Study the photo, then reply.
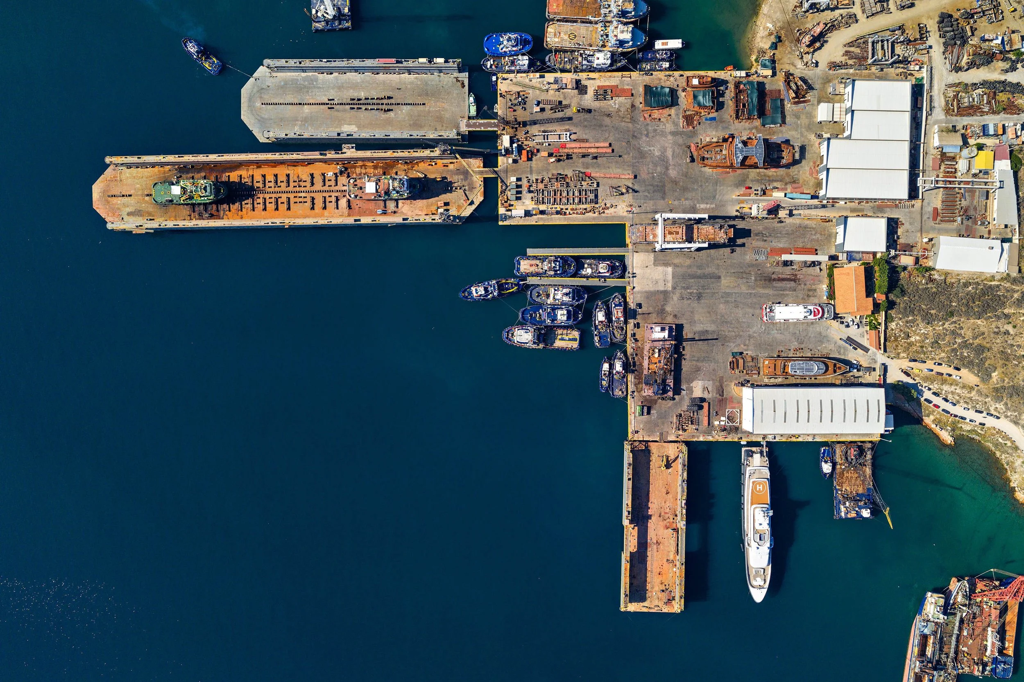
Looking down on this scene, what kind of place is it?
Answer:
port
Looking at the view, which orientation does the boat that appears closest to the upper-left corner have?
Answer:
diagonally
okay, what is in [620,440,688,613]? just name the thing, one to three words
pier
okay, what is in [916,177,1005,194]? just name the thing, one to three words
container crane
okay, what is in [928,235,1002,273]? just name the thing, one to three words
building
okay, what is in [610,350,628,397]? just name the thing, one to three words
boat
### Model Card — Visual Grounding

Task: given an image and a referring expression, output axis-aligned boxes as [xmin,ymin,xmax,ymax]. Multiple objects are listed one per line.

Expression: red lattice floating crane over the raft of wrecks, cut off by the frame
[965,569,1024,624]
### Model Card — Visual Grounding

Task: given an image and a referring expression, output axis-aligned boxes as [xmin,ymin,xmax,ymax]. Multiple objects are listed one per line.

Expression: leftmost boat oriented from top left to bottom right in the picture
[182,37,224,75]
